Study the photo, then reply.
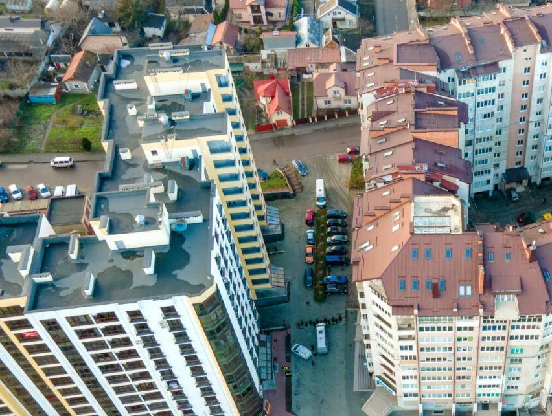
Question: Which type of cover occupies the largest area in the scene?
buildings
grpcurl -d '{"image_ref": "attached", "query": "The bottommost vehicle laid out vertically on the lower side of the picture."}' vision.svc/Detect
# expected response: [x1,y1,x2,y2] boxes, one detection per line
[312,324,329,353]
